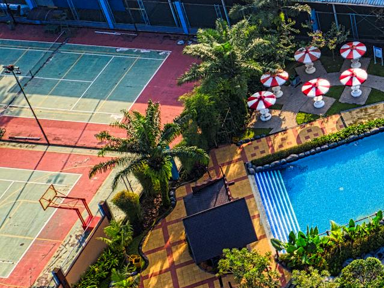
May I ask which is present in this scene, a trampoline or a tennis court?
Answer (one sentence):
Visible in the photo is a tennis court.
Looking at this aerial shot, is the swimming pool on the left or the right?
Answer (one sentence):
The swimming pool sits on the right side.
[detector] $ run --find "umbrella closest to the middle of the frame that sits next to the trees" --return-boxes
[243,93,274,124]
